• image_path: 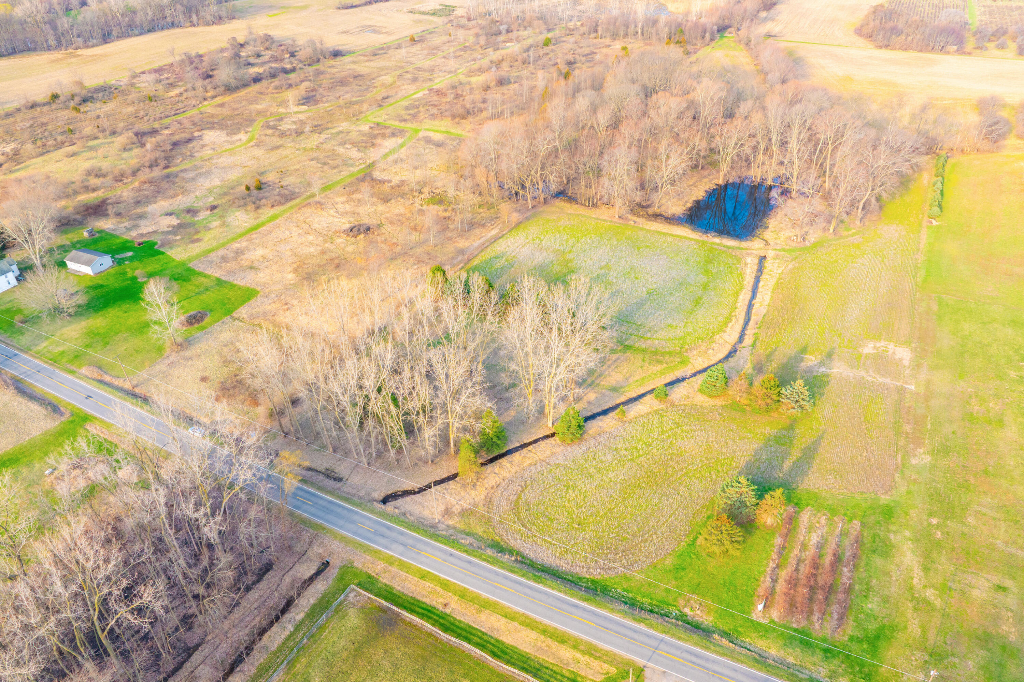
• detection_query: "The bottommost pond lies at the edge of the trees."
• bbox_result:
[680,176,779,241]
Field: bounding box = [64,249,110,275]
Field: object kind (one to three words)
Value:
building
